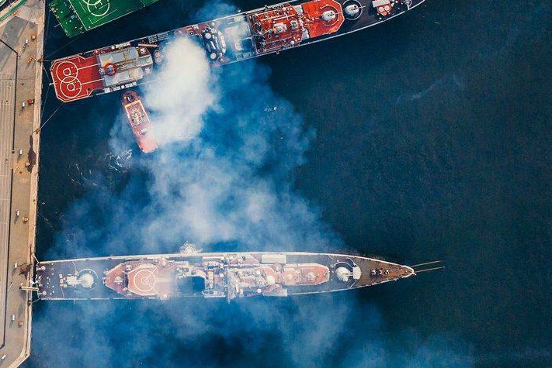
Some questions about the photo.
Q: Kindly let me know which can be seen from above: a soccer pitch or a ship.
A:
ship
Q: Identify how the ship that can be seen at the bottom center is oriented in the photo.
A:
from side to side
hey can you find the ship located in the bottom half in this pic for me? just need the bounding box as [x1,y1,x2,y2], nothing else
[22,249,445,307]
